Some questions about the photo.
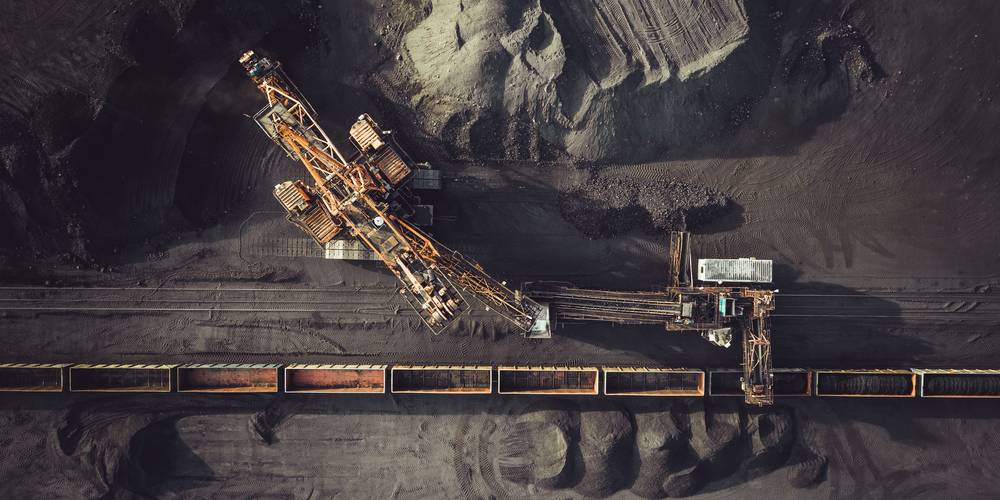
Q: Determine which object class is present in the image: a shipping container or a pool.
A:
shipping container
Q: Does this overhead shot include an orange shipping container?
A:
No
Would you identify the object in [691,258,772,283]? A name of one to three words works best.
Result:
shipping container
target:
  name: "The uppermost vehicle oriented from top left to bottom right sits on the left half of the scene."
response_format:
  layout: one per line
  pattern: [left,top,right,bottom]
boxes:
[231,43,549,334]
